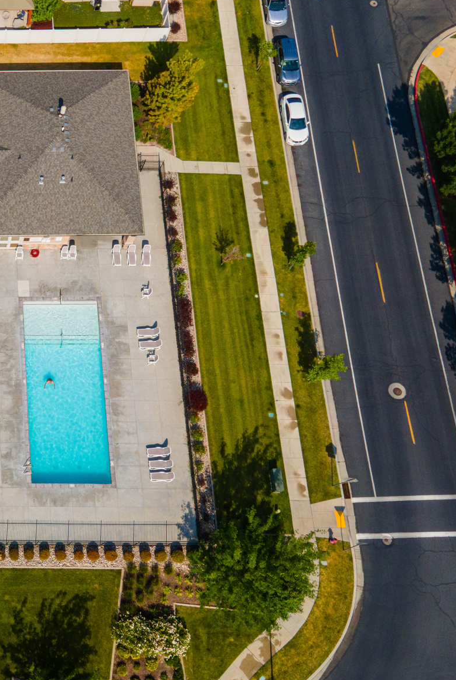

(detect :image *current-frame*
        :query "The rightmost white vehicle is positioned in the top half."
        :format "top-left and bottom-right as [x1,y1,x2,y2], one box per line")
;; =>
[280,95,312,145]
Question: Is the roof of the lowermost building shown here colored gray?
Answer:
Yes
